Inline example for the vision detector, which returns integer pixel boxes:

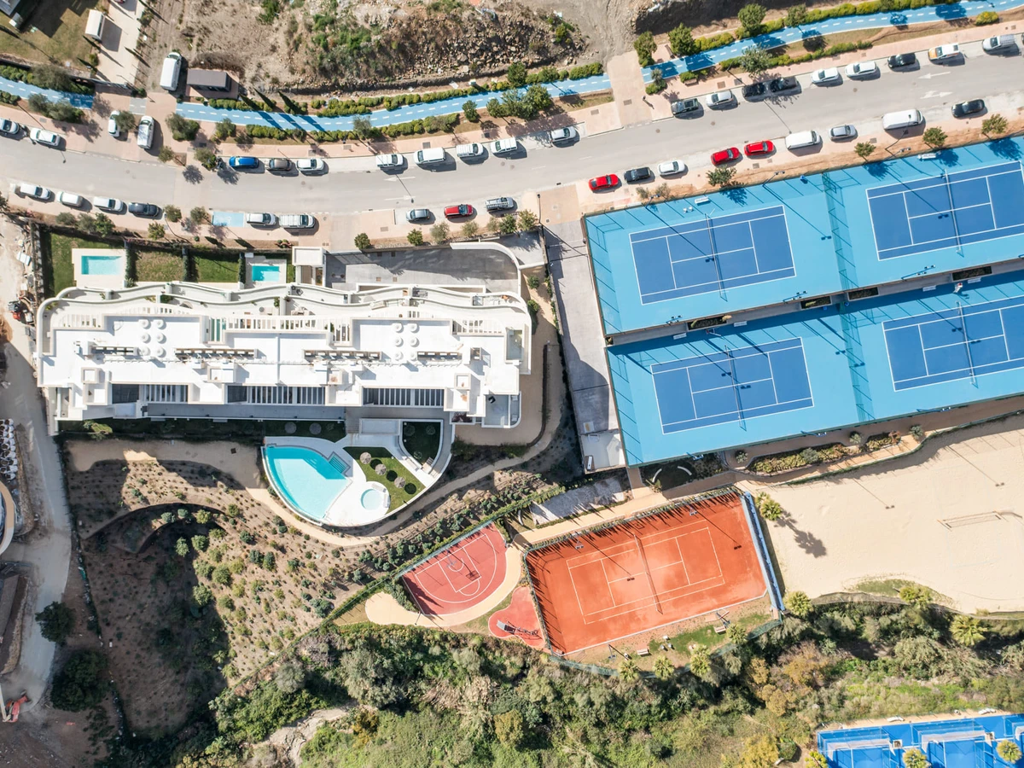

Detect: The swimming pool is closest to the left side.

[72,248,126,290]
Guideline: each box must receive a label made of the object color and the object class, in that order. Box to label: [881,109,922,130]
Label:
white vehicle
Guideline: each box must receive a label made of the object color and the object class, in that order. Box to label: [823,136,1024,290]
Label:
blue tennis court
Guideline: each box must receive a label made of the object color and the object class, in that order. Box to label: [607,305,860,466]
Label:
blue tennis court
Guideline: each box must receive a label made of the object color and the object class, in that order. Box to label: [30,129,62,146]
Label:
white car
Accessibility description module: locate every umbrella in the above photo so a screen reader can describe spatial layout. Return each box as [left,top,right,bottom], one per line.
[360,452,372,464]
[310,423,321,434]
[375,463,387,475]
[285,422,297,433]
[394,477,406,488]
